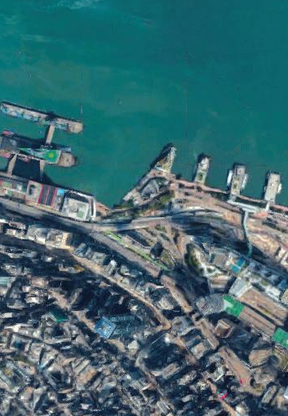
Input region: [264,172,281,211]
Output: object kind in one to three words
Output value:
pier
